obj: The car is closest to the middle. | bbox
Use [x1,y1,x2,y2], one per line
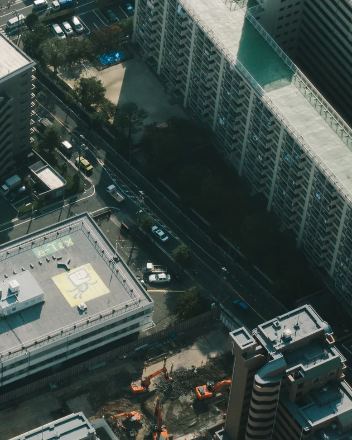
[151,223,170,241]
